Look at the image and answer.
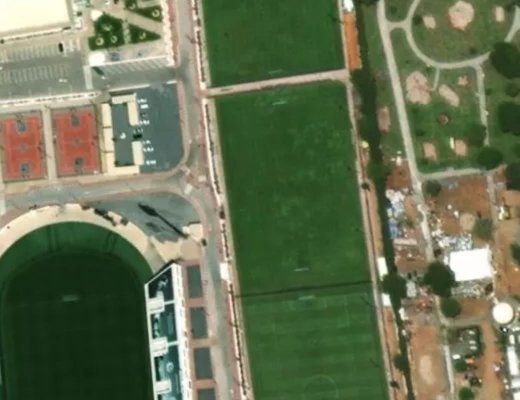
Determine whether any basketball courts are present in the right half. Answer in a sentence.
No, no basketball court is visible in the right half.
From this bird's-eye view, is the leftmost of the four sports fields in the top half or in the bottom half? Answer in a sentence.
The bottom half of the photo is where the leftmost of the four sports fields is.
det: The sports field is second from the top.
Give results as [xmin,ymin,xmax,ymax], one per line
[215,81,372,298]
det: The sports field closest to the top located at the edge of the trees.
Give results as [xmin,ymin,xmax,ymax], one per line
[202,0,345,86]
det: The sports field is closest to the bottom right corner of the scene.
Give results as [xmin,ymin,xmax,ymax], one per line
[241,283,387,400]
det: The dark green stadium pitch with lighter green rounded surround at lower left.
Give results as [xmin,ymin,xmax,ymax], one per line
[0,221,155,400]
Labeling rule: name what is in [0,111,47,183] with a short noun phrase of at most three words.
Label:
basketball court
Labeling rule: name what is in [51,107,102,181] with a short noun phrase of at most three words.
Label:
basketball court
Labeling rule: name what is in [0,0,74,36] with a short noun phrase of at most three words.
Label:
building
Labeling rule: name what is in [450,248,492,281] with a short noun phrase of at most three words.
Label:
building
